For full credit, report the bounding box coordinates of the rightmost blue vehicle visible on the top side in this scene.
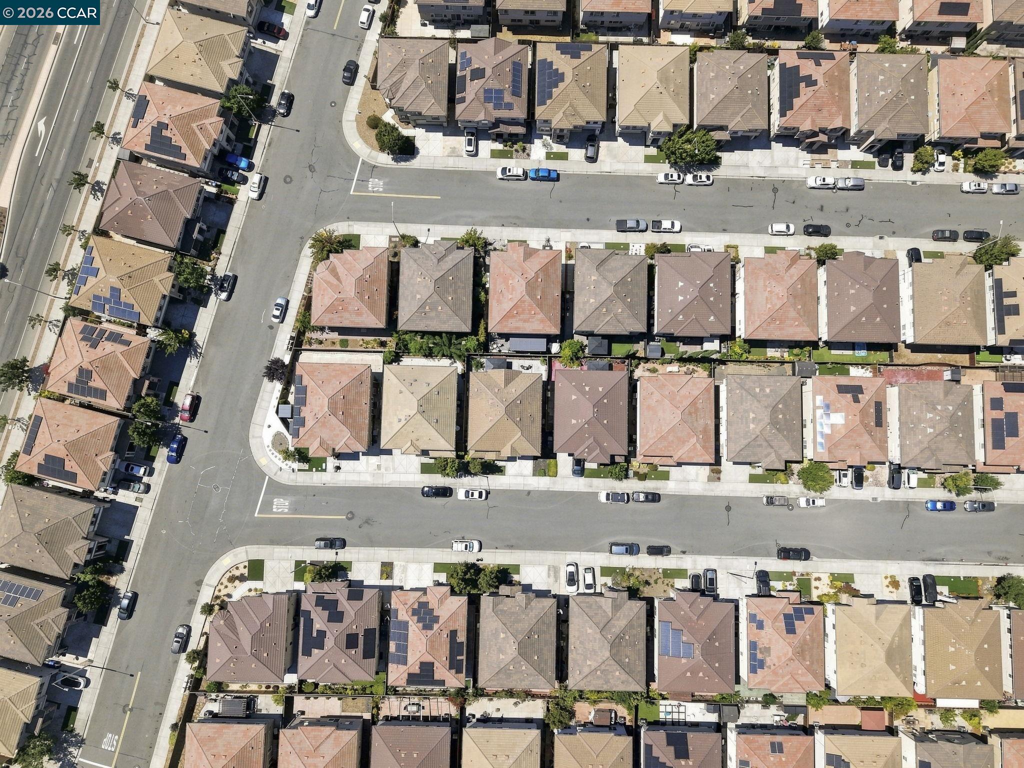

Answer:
[528,168,560,182]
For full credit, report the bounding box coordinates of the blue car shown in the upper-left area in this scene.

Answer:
[226,154,255,171]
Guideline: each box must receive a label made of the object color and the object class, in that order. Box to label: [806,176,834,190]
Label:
white car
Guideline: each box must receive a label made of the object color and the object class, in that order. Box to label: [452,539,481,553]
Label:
white vehicle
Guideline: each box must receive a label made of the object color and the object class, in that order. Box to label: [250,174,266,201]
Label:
white car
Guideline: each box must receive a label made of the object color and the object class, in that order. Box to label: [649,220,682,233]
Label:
white vehicle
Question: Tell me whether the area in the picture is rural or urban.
urban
